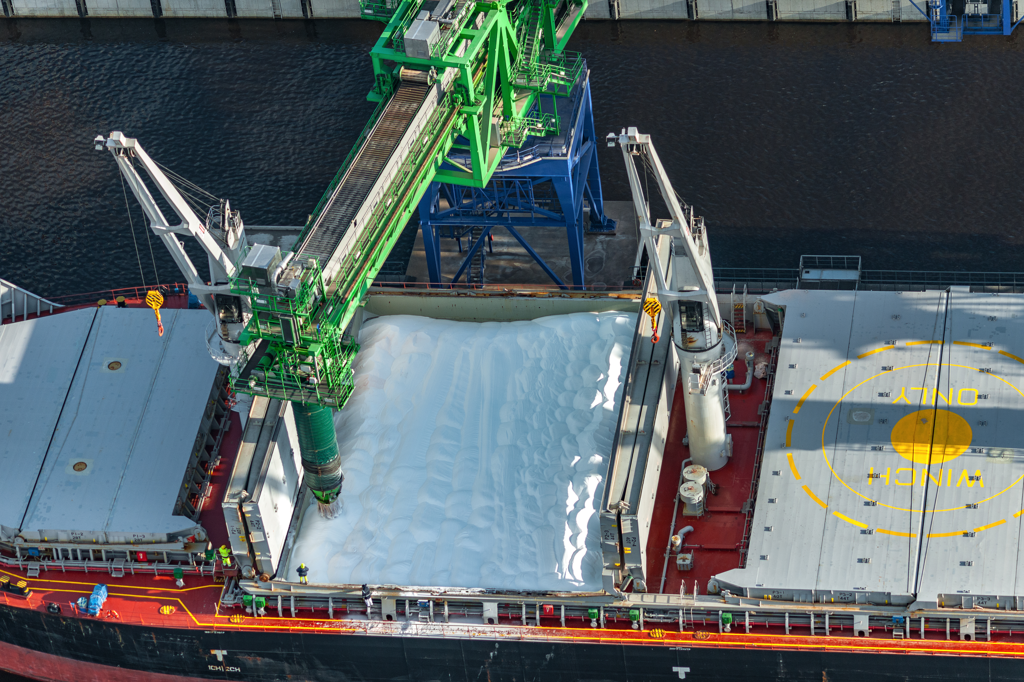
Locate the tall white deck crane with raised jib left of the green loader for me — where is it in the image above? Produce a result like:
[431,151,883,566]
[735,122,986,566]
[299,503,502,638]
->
[89,135,252,455]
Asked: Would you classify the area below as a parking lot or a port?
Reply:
port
